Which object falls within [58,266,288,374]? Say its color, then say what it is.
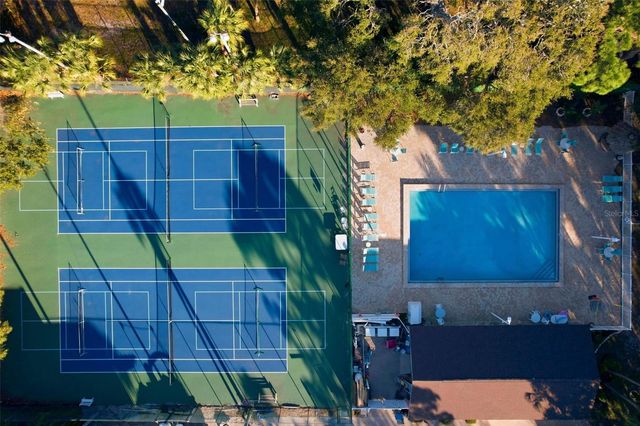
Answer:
blue tennis court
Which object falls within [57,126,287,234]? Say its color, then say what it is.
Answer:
blue tennis court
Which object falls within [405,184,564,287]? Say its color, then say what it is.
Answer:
blue swimming pool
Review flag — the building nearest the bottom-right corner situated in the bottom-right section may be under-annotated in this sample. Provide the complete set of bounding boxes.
[409,322,599,420]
